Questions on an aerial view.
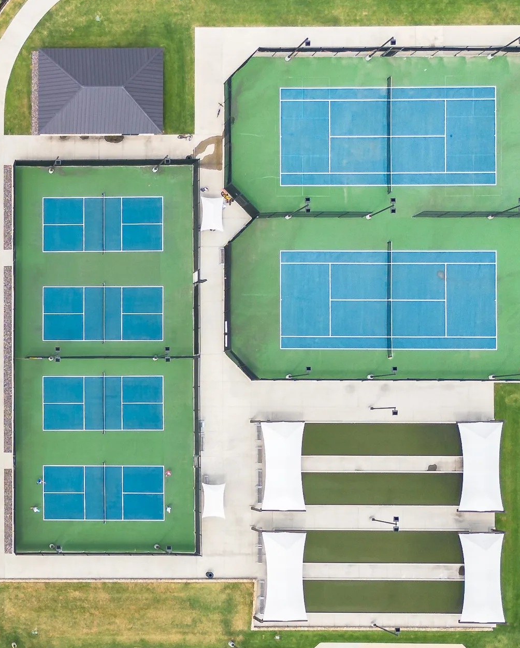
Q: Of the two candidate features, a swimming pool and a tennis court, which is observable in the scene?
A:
tennis court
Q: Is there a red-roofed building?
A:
No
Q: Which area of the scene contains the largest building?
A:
top left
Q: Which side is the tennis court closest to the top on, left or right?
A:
right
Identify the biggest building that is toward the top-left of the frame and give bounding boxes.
[37,47,164,137]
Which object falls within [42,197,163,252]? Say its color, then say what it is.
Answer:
blue sports court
